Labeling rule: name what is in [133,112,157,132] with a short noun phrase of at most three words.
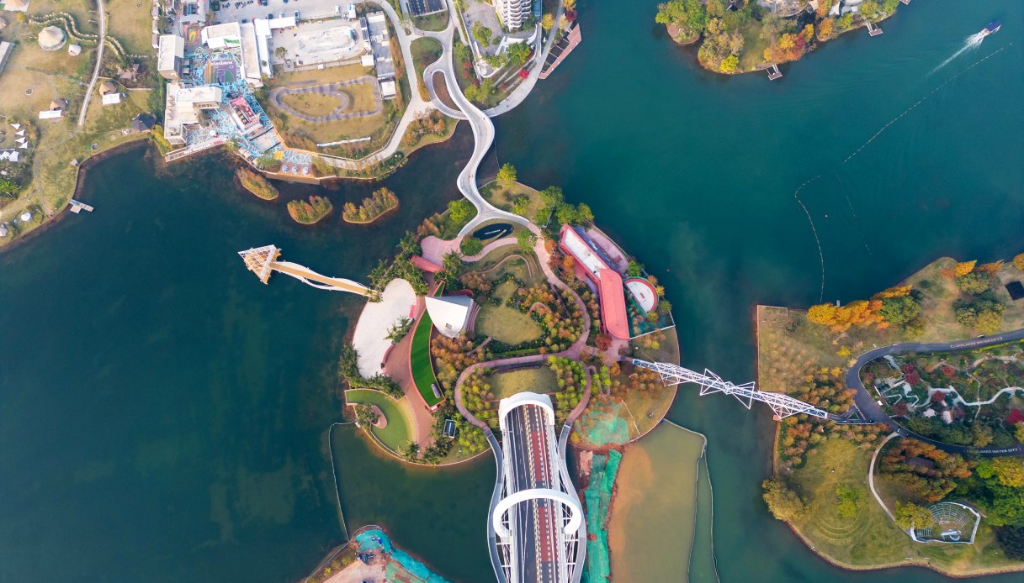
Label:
shed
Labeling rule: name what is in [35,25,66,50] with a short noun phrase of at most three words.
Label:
tent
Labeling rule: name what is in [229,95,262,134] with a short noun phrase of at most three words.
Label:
building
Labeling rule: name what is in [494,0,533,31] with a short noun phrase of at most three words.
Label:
building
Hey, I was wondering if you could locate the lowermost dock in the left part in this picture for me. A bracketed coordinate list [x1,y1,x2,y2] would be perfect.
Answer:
[238,245,376,297]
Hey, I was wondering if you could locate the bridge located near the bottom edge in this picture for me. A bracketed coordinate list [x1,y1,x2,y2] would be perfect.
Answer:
[484,392,587,583]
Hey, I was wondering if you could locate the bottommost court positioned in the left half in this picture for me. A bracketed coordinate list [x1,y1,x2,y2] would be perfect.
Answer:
[204,58,236,83]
